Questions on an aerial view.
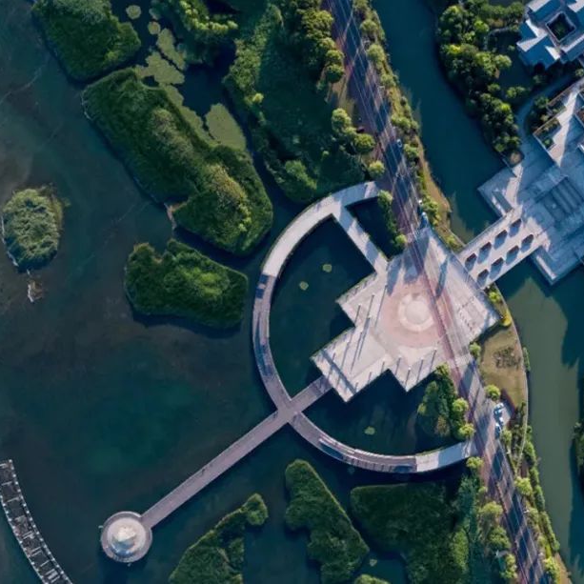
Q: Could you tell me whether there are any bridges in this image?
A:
Yes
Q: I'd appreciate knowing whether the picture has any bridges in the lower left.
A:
No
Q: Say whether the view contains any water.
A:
Yes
